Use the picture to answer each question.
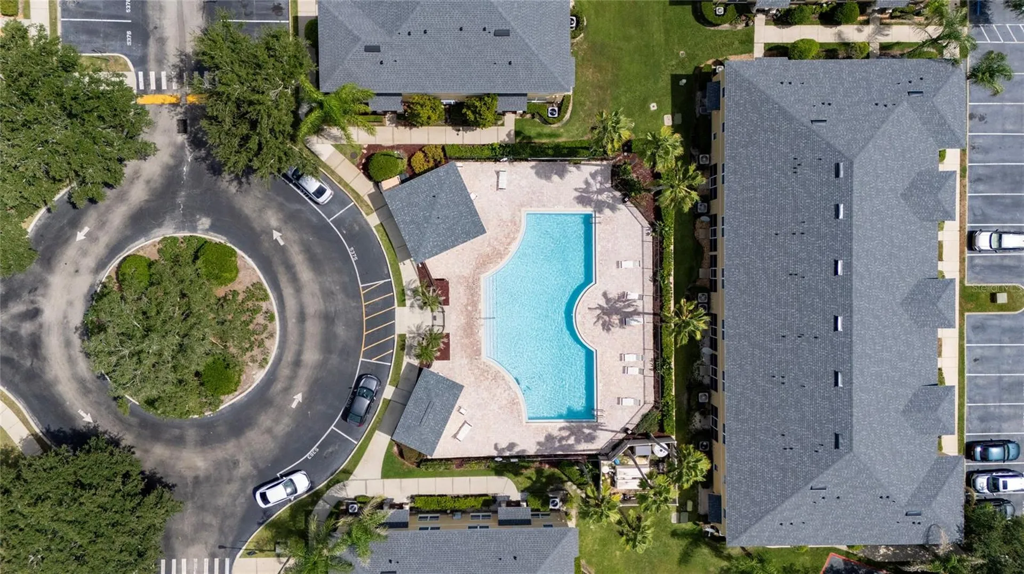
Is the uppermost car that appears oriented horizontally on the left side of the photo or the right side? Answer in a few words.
right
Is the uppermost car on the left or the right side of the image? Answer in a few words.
left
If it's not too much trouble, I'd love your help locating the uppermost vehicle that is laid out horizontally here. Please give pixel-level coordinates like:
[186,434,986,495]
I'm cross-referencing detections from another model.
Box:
[971,228,1024,254]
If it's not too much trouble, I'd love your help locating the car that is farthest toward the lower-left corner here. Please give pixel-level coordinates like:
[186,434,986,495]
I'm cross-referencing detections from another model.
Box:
[254,469,312,508]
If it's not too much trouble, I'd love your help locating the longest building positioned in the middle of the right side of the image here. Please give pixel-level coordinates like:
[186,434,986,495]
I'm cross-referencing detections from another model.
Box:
[696,59,967,547]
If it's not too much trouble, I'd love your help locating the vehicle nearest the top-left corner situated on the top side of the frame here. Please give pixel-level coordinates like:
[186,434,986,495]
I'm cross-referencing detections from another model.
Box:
[284,165,336,208]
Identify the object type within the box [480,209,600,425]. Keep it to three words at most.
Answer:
swimming pool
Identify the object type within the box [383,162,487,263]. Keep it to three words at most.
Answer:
building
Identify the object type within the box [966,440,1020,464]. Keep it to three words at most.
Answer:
car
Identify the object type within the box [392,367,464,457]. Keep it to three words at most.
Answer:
building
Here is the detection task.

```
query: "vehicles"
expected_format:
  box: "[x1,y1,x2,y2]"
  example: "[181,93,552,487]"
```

[966,497,1019,524]
[969,469,1024,496]
[344,372,381,428]
[971,228,1024,254]
[284,165,336,208]
[966,440,1020,464]
[254,469,312,508]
